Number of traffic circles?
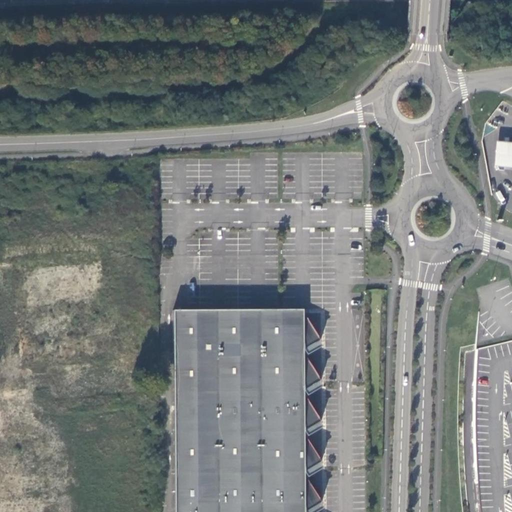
two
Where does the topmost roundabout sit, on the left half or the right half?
right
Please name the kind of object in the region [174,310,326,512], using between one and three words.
building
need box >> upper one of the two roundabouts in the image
[380,69,446,135]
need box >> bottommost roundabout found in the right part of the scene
[400,186,466,252]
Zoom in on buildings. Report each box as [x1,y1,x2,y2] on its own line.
[496,140,512,171]
[174,310,326,512]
